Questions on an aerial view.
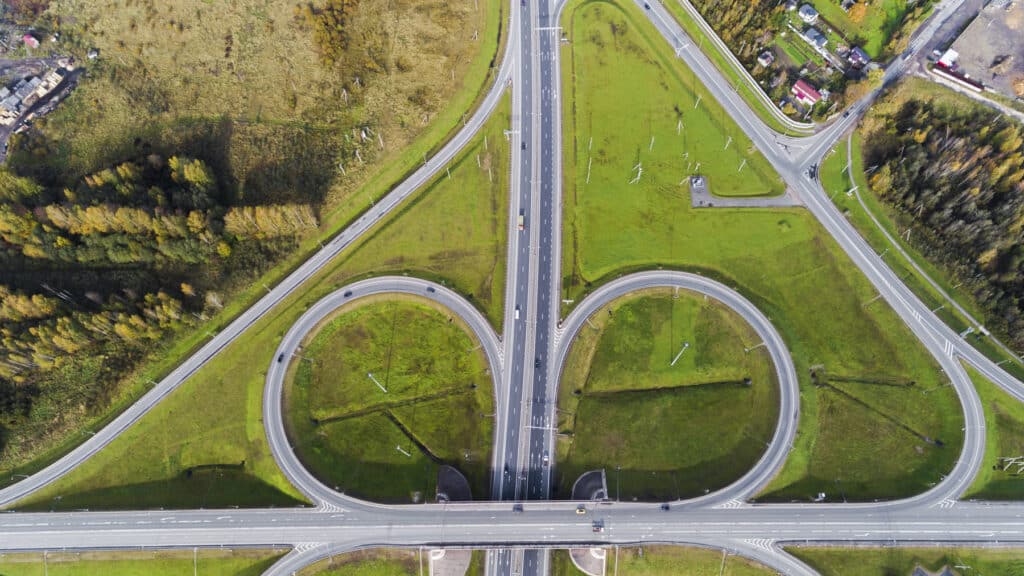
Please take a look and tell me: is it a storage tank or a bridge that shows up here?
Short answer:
bridge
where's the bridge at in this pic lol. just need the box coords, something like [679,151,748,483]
[430,500,613,550]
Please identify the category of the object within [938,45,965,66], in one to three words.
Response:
building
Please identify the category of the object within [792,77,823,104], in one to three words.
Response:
house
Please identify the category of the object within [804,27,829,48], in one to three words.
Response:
house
